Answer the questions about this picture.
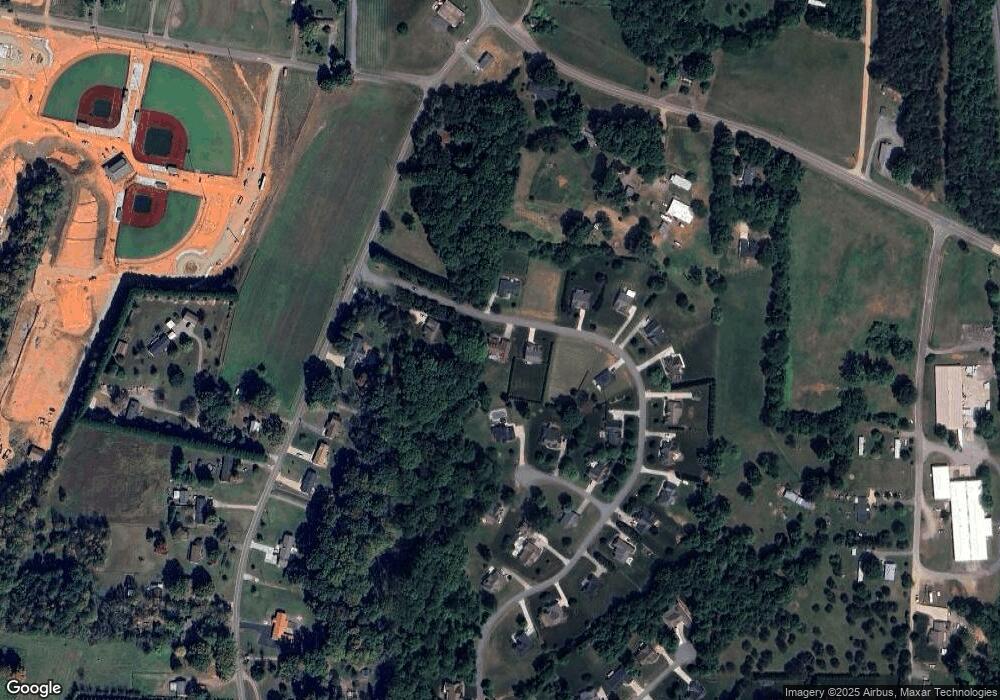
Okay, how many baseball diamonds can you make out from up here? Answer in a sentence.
In total, 3 baseball diamonds can be seen.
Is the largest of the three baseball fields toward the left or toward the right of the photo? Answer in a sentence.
The largest of the three baseball fields sits on the left side.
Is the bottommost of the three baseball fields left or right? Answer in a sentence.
The bottommost of the three baseball fields sits on the left side.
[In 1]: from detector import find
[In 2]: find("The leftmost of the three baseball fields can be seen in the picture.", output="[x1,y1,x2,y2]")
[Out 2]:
[39,48,131,127]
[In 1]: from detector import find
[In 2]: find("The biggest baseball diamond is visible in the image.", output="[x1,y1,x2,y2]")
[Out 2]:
[134,57,241,177]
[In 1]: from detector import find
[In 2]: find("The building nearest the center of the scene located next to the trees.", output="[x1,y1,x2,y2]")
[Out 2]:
[488,340,509,361]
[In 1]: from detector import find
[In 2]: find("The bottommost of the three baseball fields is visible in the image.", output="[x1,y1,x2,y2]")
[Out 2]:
[116,185,203,265]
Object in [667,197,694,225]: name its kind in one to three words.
barn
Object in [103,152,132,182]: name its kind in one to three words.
building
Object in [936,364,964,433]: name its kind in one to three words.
building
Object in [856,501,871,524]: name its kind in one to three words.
house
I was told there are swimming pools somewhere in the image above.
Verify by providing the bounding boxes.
[489,407,508,420]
